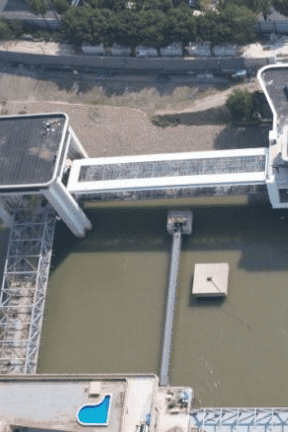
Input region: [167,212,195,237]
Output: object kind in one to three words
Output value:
pier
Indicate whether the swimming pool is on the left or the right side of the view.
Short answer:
left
